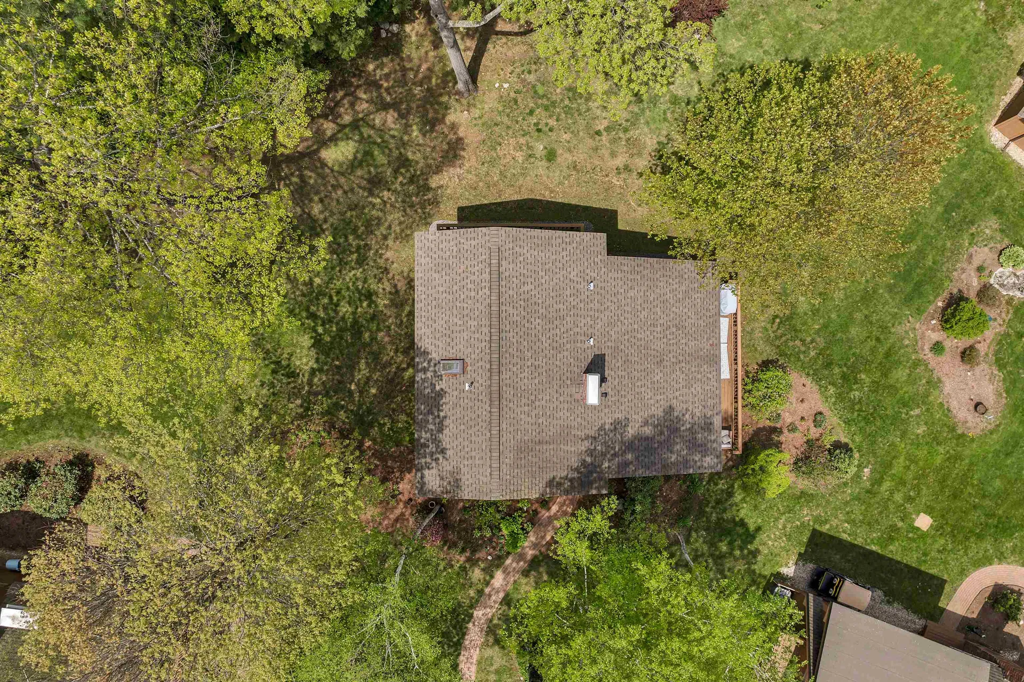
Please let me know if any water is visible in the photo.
No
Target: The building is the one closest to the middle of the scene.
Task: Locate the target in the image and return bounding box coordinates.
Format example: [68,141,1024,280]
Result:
[415,227,721,500]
